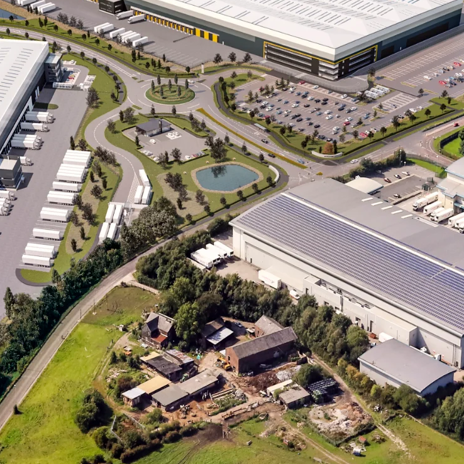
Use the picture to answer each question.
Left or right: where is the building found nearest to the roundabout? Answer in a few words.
left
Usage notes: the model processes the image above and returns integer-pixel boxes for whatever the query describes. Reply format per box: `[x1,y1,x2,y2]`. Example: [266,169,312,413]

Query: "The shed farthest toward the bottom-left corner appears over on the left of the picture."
[121,386,146,407]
